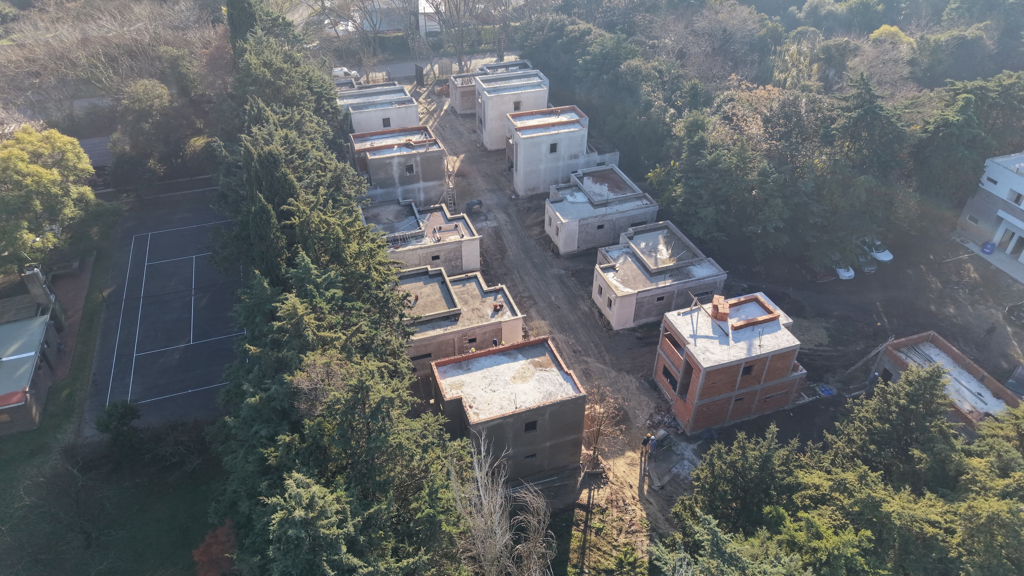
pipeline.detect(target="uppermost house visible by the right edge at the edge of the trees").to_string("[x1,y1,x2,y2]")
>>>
[962,151,1024,254]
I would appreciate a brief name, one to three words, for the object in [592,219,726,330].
house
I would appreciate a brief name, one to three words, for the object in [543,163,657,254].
house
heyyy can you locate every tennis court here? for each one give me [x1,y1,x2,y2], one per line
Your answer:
[74,195,301,461]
